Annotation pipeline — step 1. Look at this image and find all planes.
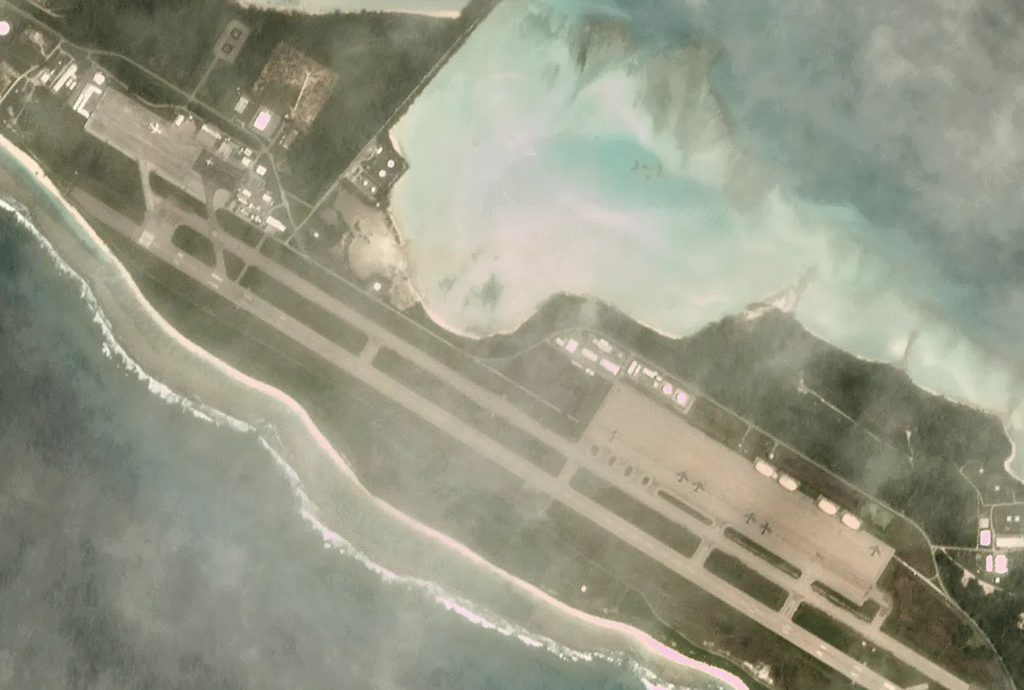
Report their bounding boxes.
[149,122,160,132]
[759,524,769,534]
[744,514,754,523]
[677,473,687,483]
[693,482,702,492]
[869,546,879,556]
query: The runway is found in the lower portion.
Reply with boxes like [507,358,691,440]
[140,231,902,690]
